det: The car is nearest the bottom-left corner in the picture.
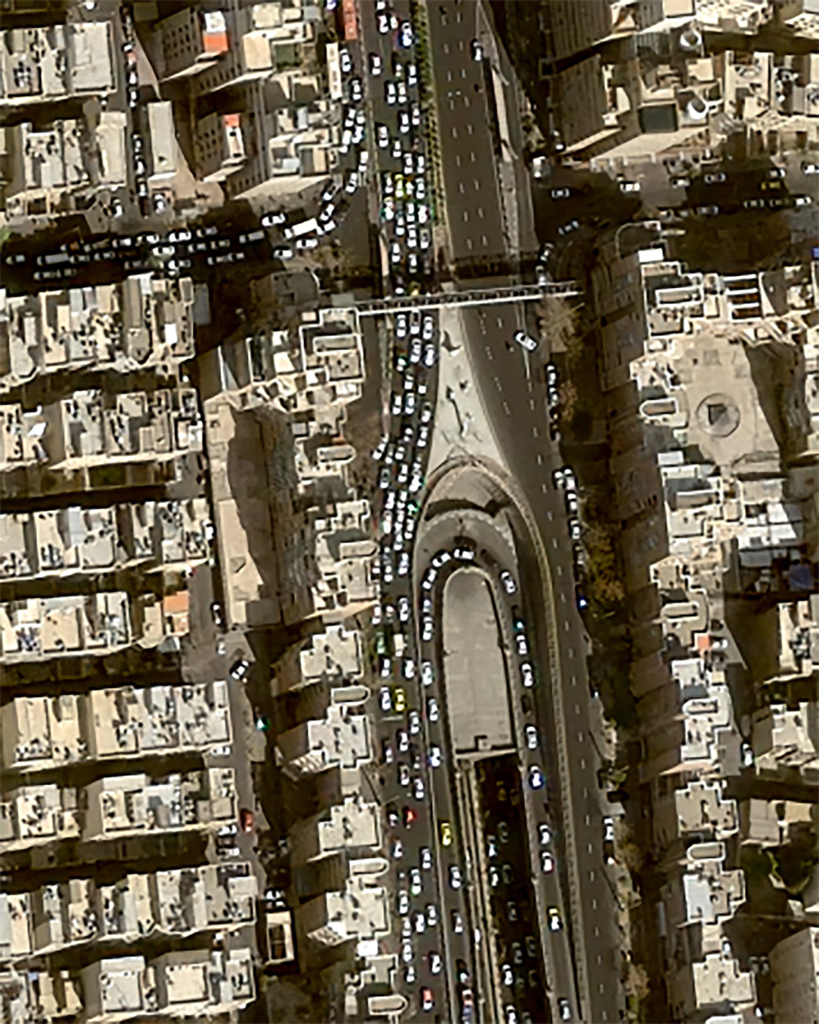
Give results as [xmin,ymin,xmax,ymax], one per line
[212,932,225,946]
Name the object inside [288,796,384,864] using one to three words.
building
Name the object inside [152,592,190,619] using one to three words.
house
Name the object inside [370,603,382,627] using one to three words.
vehicle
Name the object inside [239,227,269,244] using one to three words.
vehicle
